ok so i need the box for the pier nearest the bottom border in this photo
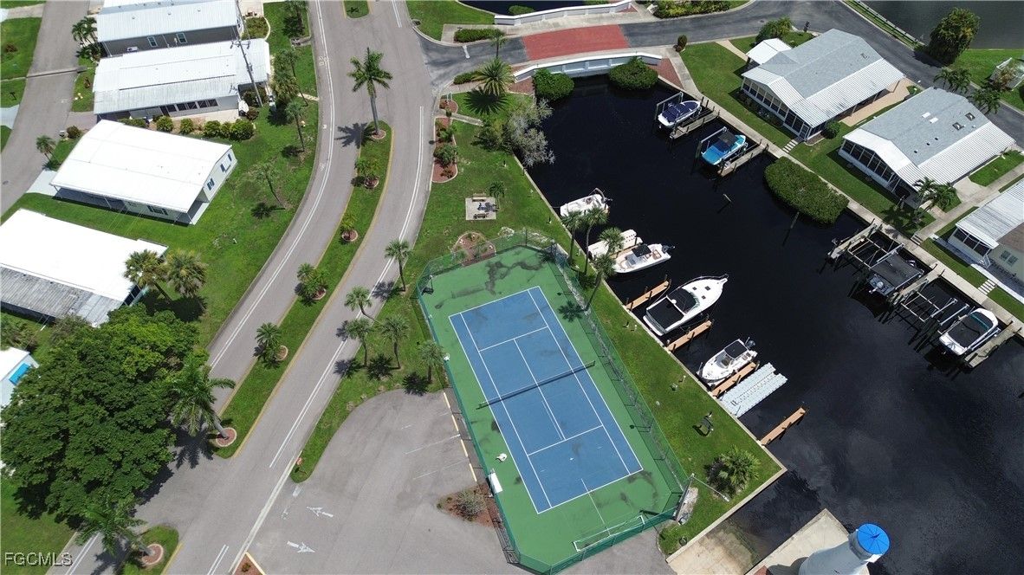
[758,404,809,445]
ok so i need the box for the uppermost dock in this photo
[668,108,720,145]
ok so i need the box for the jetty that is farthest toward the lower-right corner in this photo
[958,319,1024,373]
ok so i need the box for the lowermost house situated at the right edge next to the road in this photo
[948,175,1024,278]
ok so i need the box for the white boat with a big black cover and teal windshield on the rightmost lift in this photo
[936,312,993,358]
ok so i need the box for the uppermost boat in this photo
[657,100,700,129]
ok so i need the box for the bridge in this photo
[494,0,662,79]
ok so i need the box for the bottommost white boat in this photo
[701,342,759,383]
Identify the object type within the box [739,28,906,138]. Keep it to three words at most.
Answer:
house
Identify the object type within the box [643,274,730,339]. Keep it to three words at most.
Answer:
boat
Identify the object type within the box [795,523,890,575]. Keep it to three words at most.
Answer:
lighthouse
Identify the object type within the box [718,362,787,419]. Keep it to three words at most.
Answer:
pier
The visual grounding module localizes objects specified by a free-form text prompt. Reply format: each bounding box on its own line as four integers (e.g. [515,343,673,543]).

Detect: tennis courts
[418,248,684,565]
